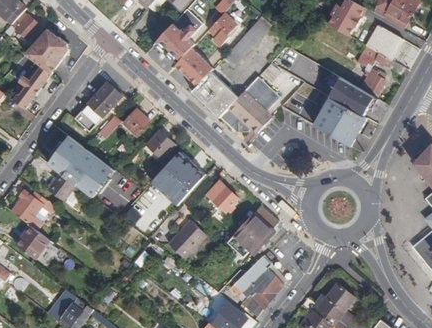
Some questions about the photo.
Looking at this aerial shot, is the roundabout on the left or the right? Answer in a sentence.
The roundabout is on the right side of the image.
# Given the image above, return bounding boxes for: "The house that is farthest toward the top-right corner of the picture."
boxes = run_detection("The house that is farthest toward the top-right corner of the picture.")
[376,0,422,30]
